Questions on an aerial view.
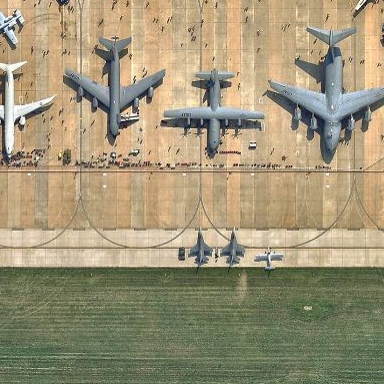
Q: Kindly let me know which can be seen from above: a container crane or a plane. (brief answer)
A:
plane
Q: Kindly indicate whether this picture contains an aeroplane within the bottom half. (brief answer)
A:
Yes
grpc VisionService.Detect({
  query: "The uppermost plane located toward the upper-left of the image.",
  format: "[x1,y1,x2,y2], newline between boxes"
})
[0,9,24,45]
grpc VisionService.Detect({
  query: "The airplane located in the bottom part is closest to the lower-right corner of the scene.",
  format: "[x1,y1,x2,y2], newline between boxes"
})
[253,248,283,269]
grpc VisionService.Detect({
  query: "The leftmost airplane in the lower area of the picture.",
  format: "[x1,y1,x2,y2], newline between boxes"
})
[189,228,213,266]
